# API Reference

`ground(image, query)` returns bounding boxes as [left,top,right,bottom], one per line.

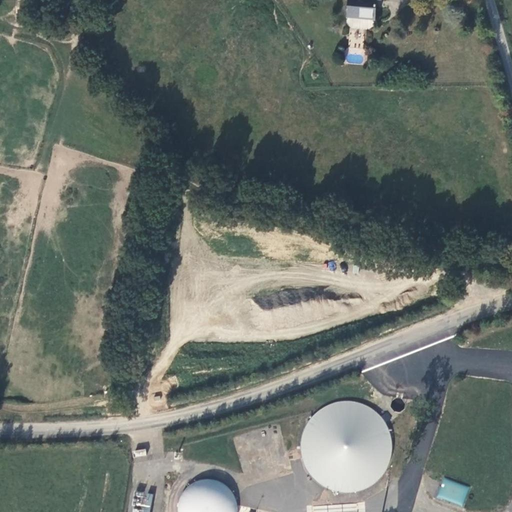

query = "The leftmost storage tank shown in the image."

[178,480,238,512]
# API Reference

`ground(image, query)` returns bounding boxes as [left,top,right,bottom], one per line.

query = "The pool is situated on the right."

[344,49,368,66]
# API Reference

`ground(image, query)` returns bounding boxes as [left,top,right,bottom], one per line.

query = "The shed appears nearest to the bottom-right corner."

[438,479,472,506]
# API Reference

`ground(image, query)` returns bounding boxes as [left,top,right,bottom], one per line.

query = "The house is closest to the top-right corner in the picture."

[347,0,377,30]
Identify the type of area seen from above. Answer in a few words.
industrial area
